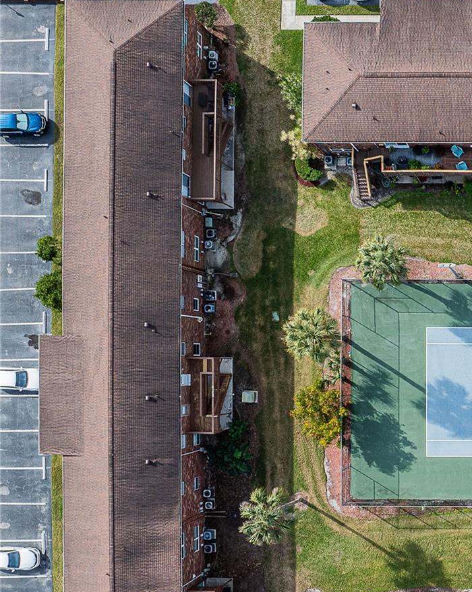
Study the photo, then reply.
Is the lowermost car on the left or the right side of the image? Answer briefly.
left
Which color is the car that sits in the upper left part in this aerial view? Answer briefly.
blue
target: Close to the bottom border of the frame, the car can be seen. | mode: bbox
[0,546,43,573]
